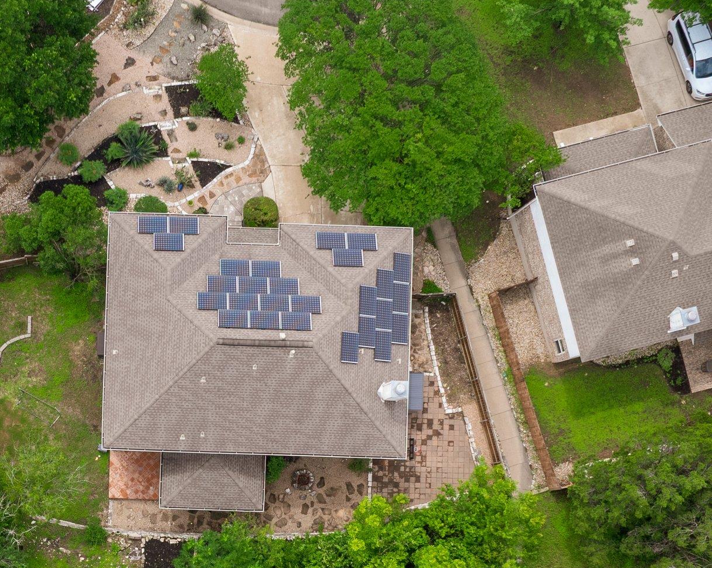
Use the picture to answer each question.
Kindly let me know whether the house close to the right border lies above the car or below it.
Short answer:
below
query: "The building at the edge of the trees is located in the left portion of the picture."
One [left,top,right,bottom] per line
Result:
[100,209,415,513]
